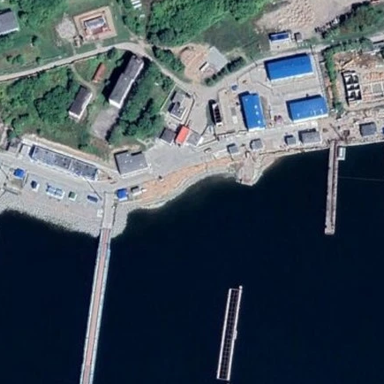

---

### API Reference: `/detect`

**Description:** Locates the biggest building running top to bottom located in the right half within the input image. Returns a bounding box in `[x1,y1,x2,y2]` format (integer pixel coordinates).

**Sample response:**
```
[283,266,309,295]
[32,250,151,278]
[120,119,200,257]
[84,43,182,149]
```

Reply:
[242,92,265,131]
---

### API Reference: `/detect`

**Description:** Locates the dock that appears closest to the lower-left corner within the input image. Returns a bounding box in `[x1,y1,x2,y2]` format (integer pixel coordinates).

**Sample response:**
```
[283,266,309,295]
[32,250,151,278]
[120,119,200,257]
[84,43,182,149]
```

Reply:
[80,230,110,384]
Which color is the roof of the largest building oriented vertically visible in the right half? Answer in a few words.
blue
